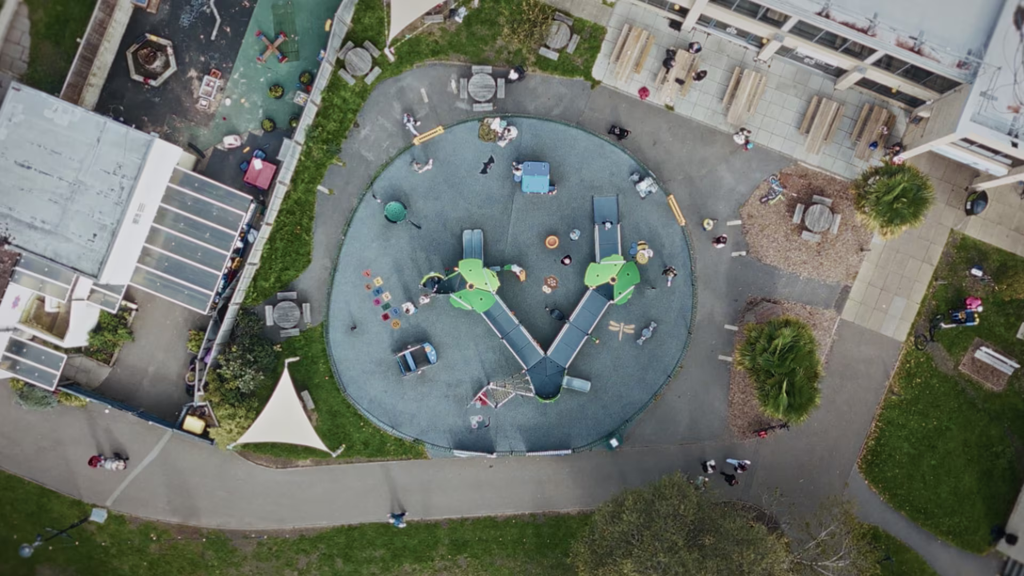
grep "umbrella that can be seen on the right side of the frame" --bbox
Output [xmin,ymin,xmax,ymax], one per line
[960,188,986,218]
